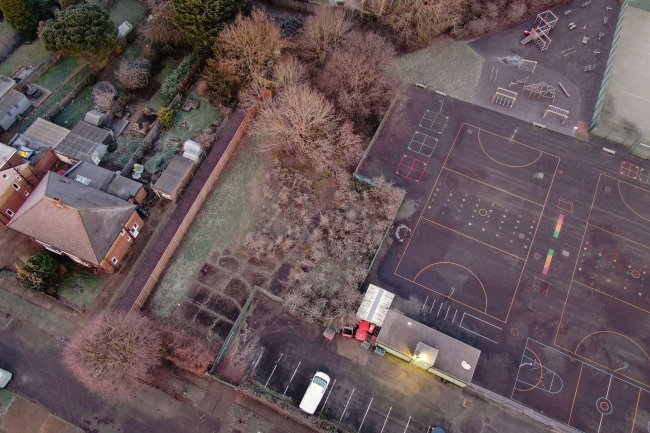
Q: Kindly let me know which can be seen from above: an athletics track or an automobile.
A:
automobile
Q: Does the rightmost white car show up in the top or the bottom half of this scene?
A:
bottom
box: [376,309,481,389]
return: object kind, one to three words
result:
building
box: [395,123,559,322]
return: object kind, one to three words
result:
sports court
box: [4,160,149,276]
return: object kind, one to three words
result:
house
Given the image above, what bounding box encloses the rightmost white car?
[300,371,329,413]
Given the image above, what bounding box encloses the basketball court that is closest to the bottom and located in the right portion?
[511,338,650,433]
